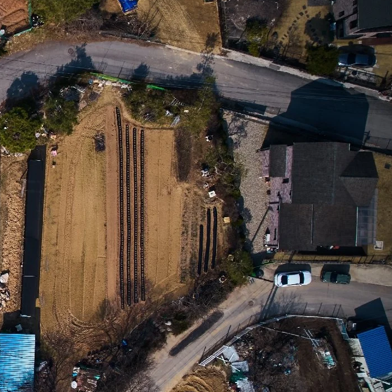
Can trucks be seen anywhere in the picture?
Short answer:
No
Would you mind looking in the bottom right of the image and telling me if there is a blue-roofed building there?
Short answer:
Yes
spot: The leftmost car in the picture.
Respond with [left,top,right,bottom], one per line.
[276,270,316,289]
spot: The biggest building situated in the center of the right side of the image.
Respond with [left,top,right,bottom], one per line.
[265,143,379,252]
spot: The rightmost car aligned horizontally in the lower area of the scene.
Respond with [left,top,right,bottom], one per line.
[322,269,357,287]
